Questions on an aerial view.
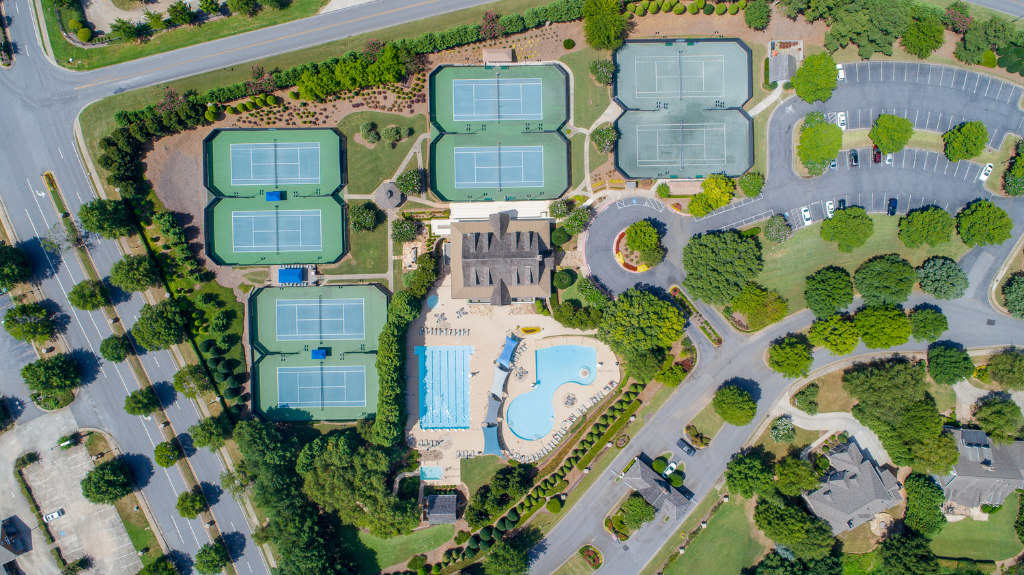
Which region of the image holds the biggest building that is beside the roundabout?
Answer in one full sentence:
You can find the biggest building that is beside the roundabout in the center area of the picture.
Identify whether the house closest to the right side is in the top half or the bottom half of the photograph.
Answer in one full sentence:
You can find the house closest to the right side in the bottom half.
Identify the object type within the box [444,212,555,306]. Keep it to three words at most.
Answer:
building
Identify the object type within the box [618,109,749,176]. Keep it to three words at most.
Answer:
tennis court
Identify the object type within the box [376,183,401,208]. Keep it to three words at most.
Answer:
gazebo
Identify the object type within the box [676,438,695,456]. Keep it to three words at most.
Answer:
vehicle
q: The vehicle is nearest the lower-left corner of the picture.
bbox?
[44,508,66,522]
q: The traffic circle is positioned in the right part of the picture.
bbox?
[584,196,692,299]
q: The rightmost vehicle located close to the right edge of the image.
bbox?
[978,163,992,181]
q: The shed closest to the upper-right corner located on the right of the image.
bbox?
[767,40,803,85]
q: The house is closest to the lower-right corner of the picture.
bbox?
[935,429,1024,508]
